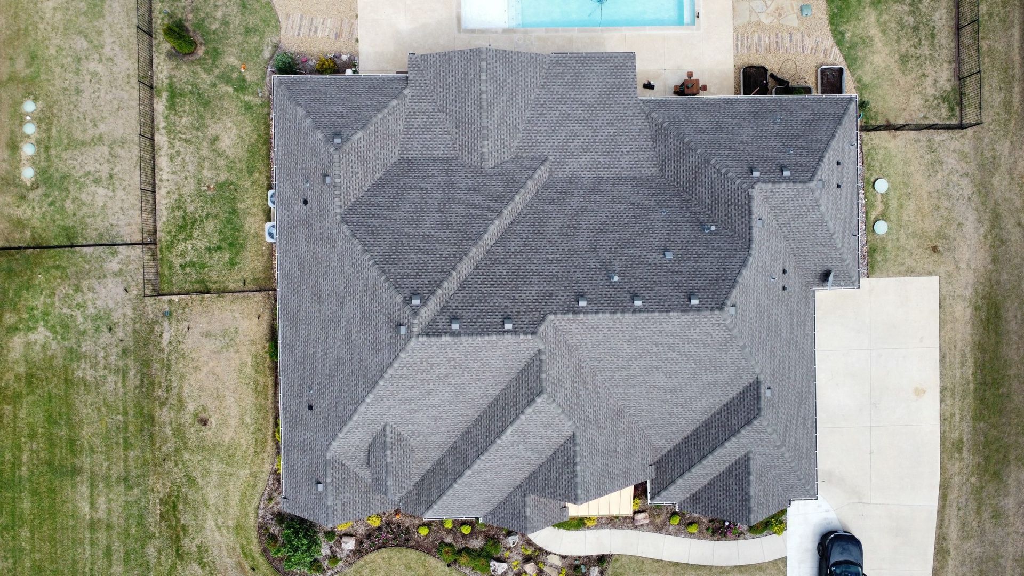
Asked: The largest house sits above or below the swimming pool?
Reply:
below it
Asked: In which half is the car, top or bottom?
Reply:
bottom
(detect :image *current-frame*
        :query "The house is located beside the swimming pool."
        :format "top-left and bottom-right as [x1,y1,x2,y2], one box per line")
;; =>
[272,48,861,534]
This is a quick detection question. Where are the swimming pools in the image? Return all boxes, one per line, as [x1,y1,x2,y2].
[455,0,701,34]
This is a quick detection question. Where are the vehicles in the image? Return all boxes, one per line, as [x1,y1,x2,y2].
[815,530,867,576]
